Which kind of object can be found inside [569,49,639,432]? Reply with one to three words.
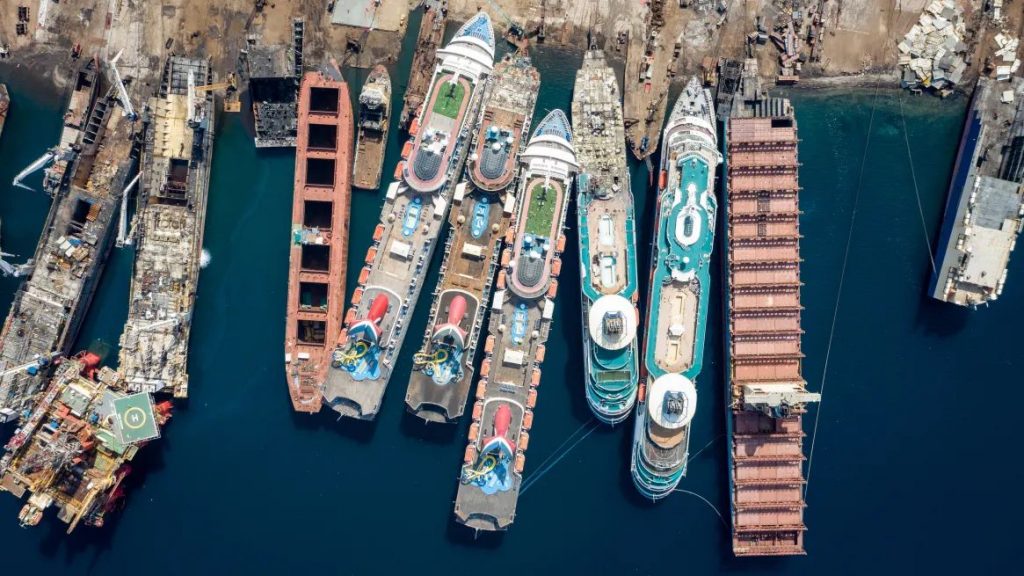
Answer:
ship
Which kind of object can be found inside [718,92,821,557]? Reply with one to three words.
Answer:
ship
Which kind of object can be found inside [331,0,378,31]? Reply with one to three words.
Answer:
shed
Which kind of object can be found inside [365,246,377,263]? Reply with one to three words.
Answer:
boat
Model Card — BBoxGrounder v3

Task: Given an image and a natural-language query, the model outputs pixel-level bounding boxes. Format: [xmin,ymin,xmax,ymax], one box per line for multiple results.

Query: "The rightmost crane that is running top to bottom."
[184,68,199,129]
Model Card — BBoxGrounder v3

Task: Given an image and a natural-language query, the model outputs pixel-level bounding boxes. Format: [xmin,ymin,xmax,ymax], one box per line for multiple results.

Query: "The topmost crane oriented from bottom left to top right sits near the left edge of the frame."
[13,148,67,192]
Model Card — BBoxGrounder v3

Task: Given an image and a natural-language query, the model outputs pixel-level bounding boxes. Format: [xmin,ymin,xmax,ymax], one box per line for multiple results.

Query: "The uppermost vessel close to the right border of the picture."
[926,77,1024,306]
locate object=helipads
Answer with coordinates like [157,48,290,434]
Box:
[111,389,165,446]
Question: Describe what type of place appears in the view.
port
